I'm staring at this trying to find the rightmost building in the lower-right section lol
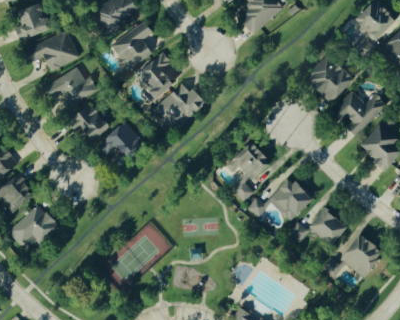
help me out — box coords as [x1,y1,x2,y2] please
[344,236,383,278]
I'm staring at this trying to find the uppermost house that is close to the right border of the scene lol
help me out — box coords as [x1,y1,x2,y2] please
[362,2,394,43]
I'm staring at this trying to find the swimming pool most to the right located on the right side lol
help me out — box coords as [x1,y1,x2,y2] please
[362,81,382,97]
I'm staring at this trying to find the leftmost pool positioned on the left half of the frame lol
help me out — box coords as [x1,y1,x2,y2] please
[103,52,118,70]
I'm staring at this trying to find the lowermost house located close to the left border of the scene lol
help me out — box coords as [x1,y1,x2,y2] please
[13,206,61,248]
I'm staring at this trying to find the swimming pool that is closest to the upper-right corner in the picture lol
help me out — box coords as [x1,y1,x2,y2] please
[344,19,362,46]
